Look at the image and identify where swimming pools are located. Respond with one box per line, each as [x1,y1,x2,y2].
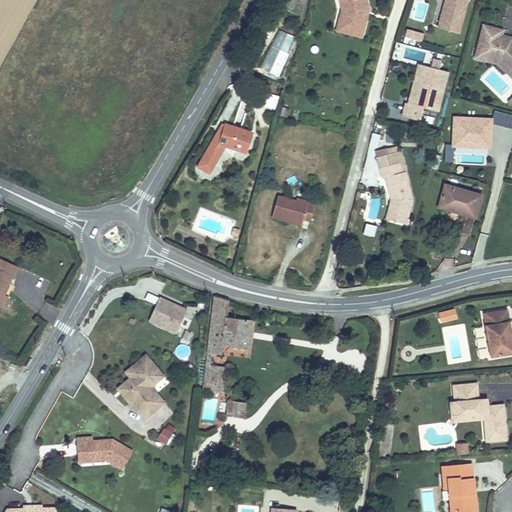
[199,396,226,429]
[174,343,192,361]
[409,0,430,22]
[392,43,433,64]
[192,207,236,242]
[238,505,260,512]
[420,488,442,512]
[361,192,382,223]
[480,66,512,103]
[454,148,488,165]
[442,324,471,365]
[418,419,458,450]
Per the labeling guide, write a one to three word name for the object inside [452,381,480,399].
building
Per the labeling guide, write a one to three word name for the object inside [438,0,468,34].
house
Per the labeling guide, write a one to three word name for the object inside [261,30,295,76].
greenhouse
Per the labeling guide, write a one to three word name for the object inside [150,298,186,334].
house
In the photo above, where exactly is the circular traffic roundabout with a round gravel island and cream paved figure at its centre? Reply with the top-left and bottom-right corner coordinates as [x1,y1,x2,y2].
[82,206,150,272]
